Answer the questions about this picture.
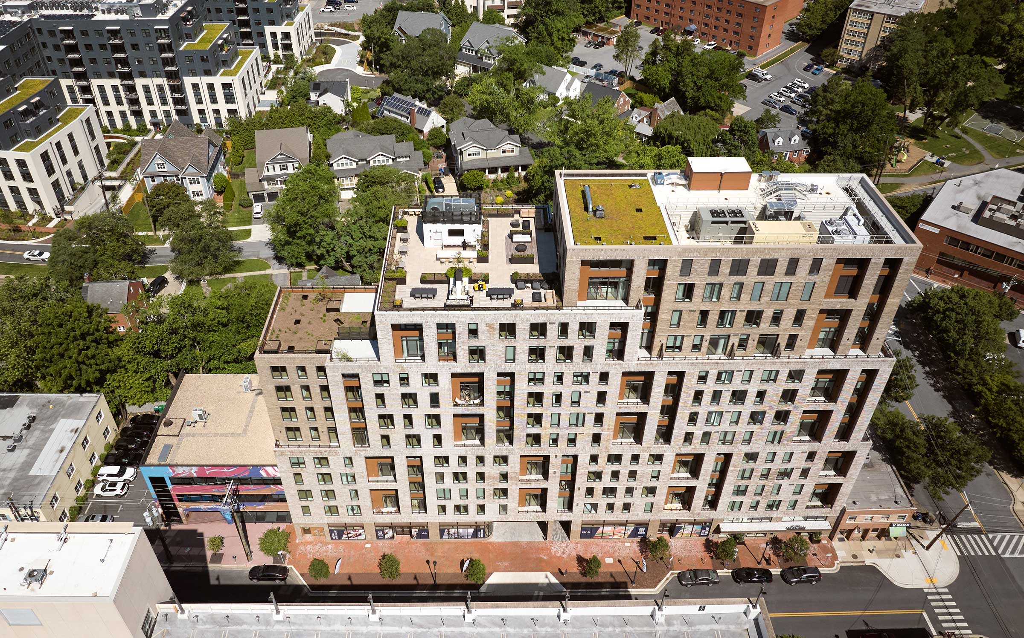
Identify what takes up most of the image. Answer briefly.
buildings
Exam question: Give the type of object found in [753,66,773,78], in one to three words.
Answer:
vehicle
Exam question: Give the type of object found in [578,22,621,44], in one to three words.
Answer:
house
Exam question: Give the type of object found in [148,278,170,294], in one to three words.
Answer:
car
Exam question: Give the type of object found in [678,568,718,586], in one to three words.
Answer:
car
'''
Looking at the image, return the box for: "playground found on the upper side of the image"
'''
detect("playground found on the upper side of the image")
[879,138,928,173]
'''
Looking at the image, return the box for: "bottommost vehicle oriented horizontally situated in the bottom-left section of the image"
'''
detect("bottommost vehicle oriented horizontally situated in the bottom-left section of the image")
[246,564,287,583]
